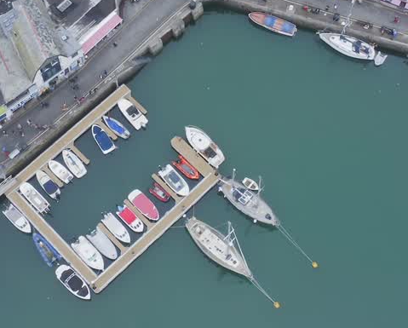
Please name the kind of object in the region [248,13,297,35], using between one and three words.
boat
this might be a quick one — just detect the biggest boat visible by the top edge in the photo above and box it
[319,4,377,60]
